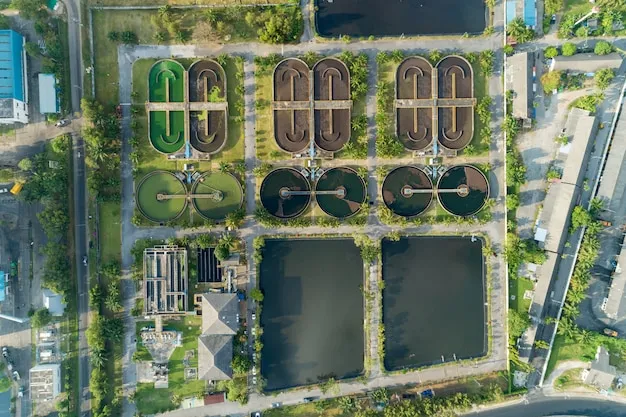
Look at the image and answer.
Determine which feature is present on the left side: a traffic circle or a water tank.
water tank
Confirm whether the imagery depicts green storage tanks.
Yes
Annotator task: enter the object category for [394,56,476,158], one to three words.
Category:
water tank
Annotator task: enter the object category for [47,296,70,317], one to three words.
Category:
house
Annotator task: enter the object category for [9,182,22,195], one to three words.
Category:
vehicle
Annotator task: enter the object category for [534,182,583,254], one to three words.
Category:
building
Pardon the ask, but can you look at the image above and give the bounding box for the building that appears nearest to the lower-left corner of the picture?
[31,365,61,399]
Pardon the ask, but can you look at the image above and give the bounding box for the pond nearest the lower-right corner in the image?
[381,235,487,372]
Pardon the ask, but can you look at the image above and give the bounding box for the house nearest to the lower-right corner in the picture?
[582,347,617,391]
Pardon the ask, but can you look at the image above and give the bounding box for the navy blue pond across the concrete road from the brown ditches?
[316,0,488,39]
